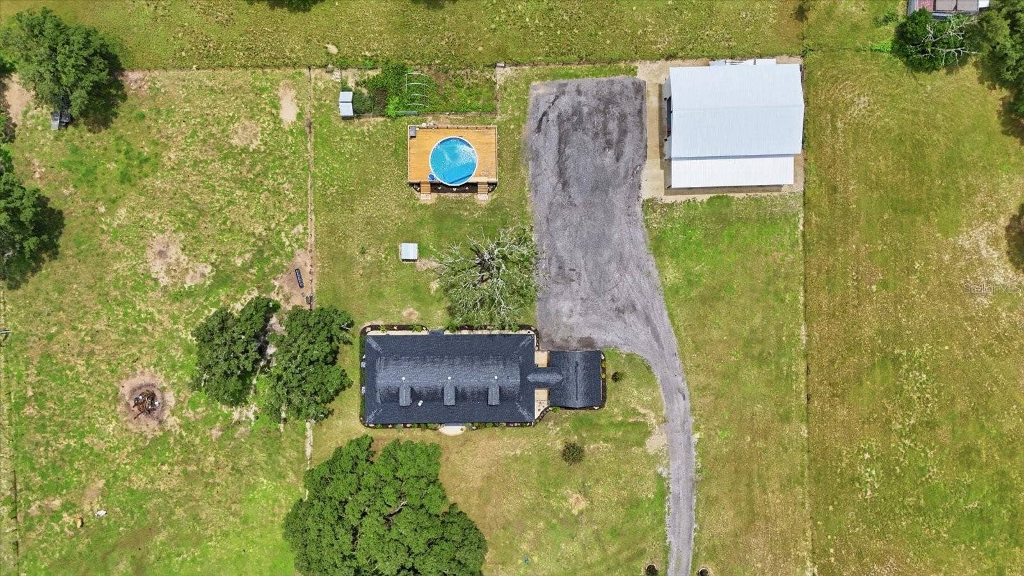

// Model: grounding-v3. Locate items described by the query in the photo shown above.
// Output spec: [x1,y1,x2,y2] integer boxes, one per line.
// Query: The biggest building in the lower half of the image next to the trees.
[365,330,535,427]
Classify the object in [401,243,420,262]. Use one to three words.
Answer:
shed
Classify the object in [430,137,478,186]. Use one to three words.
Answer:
swimming pool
